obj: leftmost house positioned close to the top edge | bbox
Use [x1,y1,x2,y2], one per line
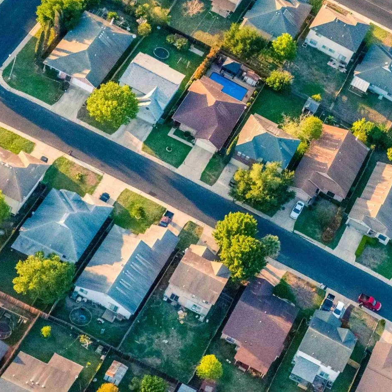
[42,10,135,107]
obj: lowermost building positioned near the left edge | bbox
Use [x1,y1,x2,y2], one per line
[1,351,83,392]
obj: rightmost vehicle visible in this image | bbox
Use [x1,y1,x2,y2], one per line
[356,290,384,312]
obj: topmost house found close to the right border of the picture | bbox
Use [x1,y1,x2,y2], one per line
[306,0,375,62]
